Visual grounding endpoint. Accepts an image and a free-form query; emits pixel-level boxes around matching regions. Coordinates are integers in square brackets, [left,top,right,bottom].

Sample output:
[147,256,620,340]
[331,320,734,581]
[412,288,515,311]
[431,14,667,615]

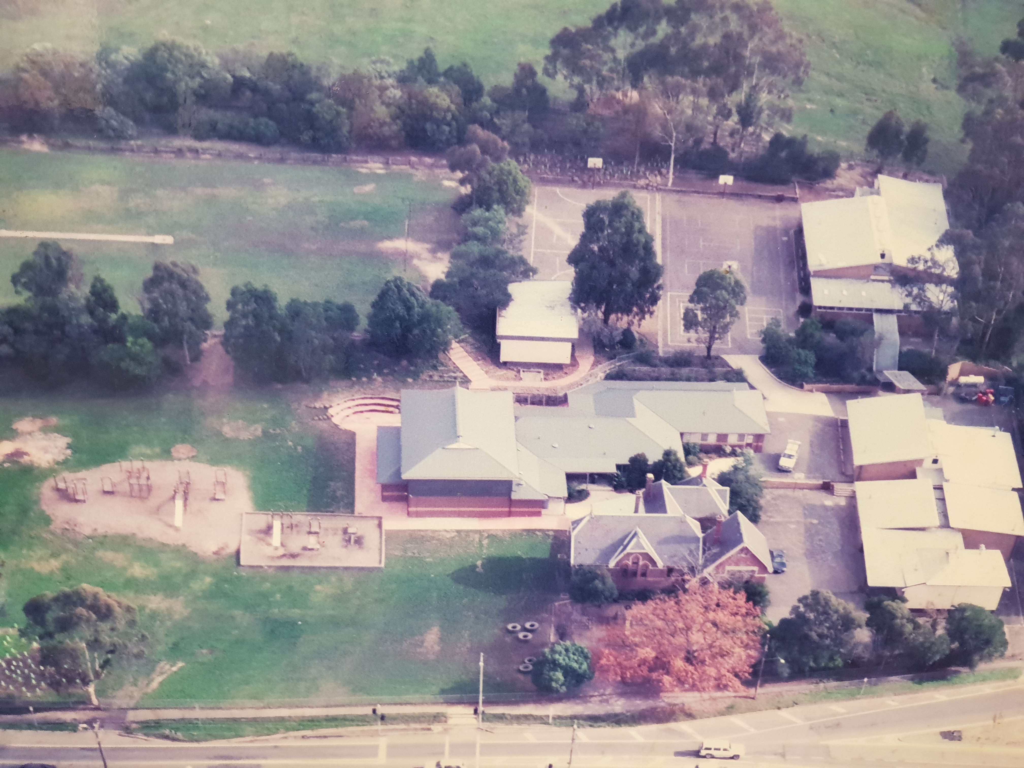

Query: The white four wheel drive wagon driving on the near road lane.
[697,735,745,760]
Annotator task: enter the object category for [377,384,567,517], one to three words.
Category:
building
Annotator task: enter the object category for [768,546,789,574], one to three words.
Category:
car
